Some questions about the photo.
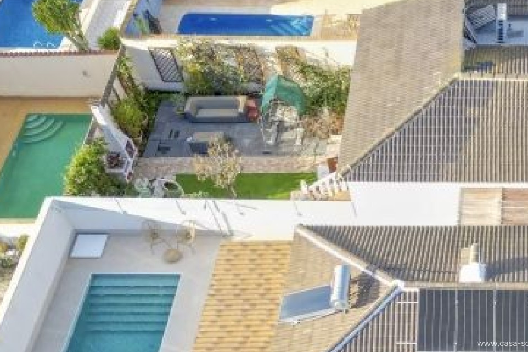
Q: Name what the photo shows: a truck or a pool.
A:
pool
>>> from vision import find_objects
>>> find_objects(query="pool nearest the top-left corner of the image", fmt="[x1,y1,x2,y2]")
[0,0,90,51]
